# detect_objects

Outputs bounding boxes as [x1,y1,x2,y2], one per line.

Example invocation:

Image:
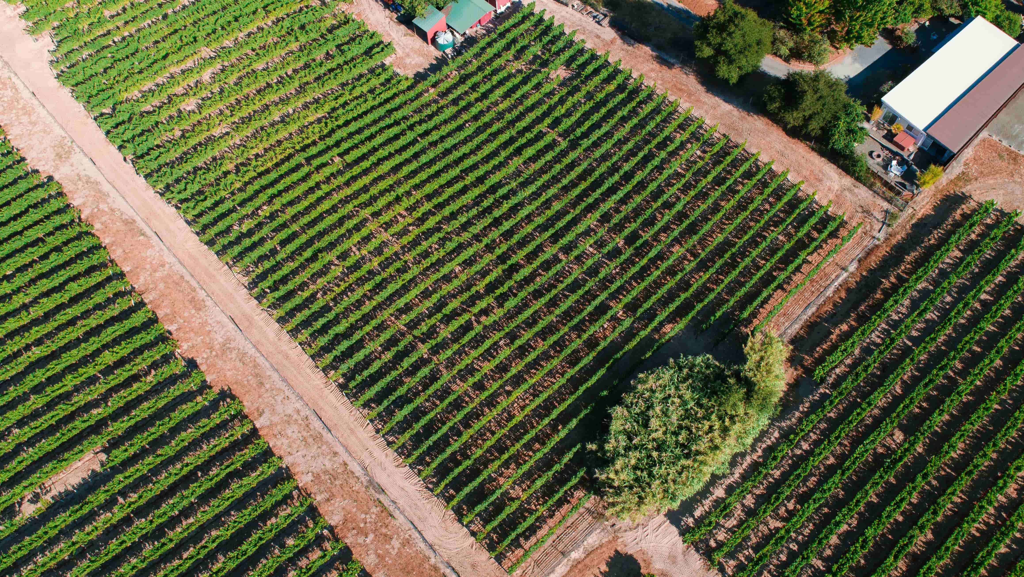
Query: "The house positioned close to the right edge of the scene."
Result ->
[878,14,1024,159]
